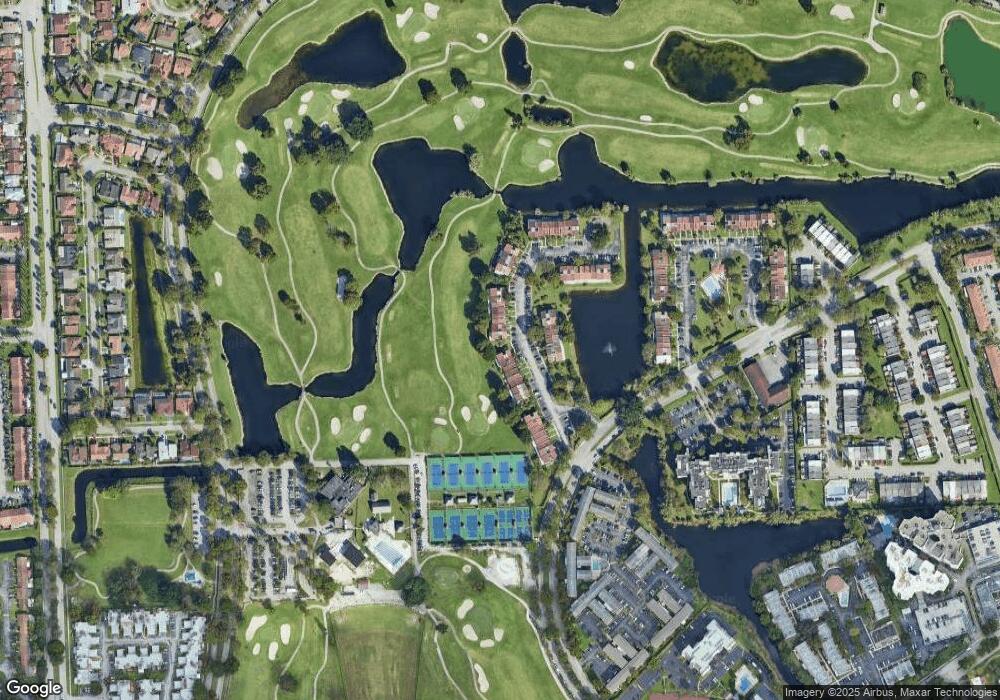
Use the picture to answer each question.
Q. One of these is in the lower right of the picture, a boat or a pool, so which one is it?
pool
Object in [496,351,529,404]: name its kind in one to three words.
house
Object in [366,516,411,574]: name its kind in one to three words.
swimming pool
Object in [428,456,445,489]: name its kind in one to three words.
tennis court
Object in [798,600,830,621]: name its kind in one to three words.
building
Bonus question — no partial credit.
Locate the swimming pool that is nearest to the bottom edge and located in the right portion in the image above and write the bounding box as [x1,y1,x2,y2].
[736,665,758,694]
